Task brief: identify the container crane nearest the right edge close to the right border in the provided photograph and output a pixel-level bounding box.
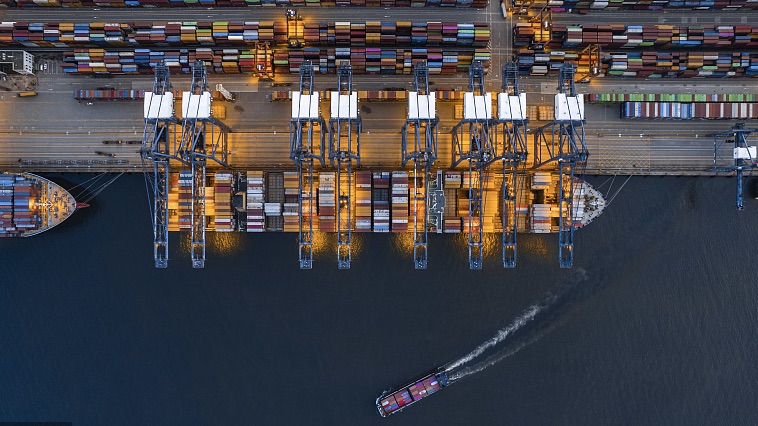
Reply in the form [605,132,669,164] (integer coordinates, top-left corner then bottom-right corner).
[695,119,758,210]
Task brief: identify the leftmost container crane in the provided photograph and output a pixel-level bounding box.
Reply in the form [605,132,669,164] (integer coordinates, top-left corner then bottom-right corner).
[135,61,196,268]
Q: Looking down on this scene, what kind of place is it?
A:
port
